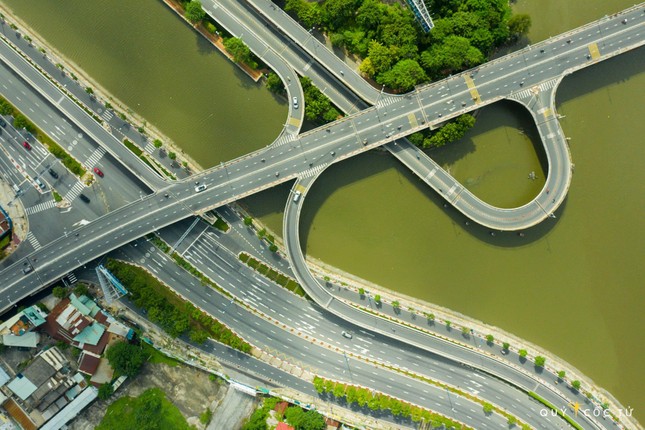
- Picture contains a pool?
No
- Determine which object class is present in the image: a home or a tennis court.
home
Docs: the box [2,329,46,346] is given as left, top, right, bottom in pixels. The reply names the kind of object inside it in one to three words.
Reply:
house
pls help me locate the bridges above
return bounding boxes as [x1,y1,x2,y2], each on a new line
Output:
[0,3,645,312]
